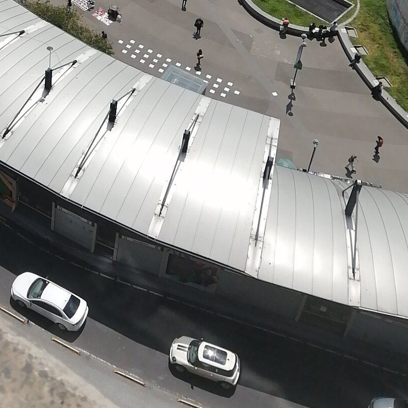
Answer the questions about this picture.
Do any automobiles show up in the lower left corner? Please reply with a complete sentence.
Yes, an automobile shows up in the lower left corner.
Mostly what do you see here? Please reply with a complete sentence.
What you mostly see from above here is buildings.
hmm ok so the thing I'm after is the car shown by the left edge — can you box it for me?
[10,276,91,333]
